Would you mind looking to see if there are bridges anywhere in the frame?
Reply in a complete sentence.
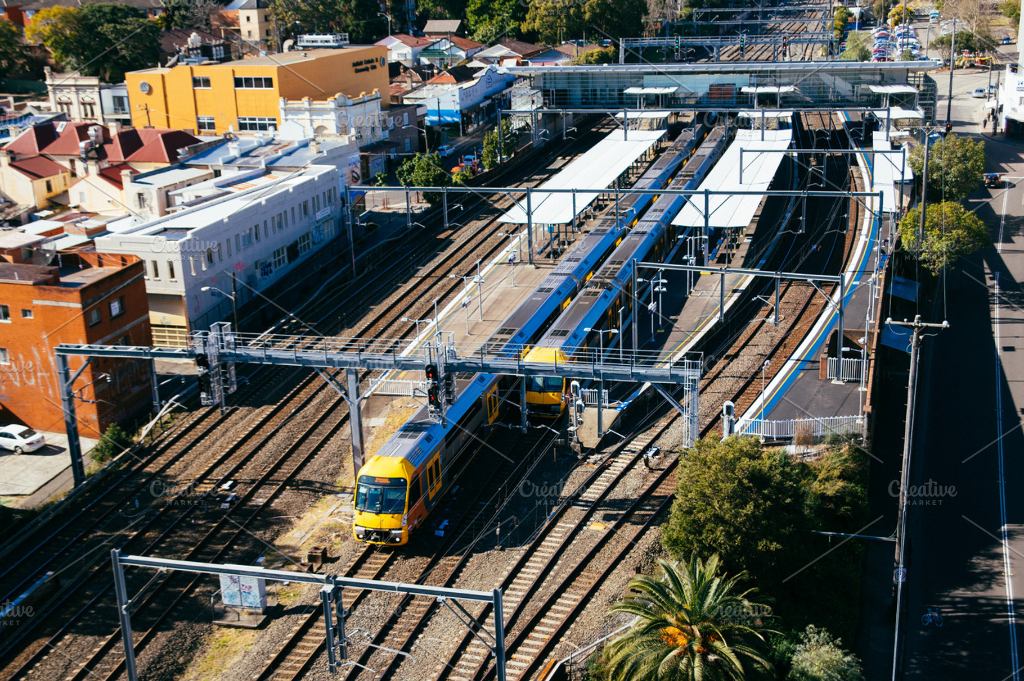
Yes, there is a bridge in the image.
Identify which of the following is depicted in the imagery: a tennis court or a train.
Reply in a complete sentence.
I can see a train in this picture.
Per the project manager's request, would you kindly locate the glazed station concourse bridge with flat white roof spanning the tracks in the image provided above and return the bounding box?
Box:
[508,58,941,133]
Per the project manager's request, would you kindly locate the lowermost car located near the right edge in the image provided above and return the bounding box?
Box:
[983,174,1001,188]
